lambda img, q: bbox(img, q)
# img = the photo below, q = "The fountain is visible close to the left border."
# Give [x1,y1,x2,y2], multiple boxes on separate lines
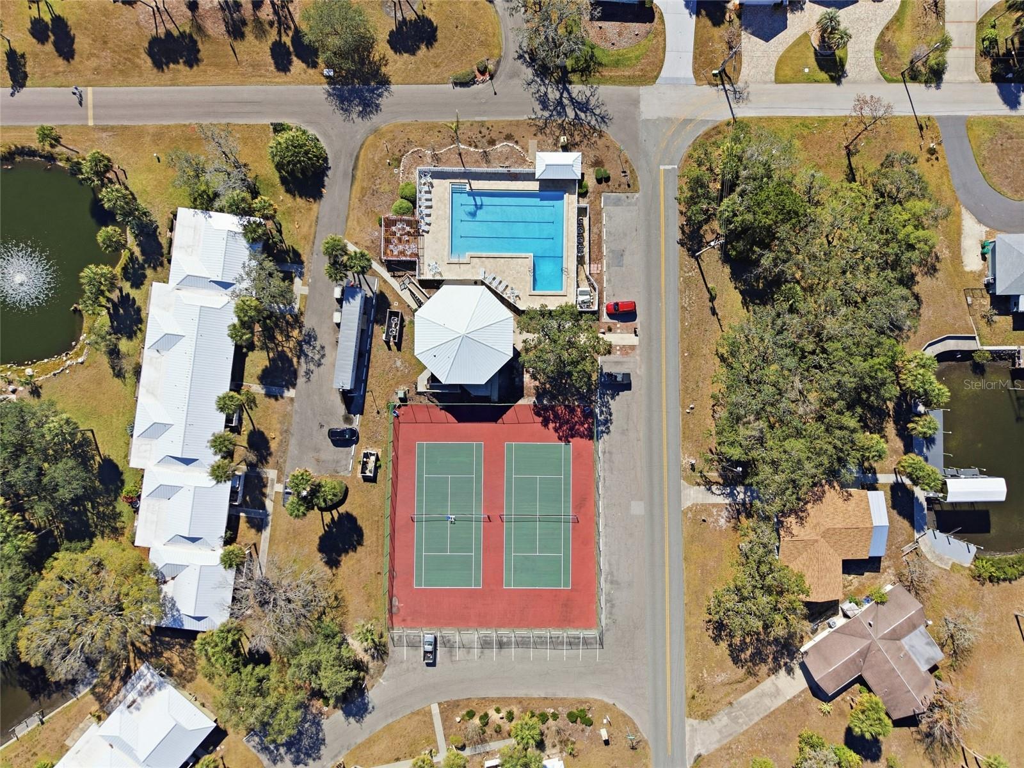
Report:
[0,239,61,319]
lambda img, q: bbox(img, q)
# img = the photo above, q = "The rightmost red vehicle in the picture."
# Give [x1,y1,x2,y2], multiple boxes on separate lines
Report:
[607,301,637,314]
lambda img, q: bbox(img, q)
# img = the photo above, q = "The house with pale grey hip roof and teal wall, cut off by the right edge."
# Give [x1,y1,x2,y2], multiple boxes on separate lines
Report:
[990,233,1024,312]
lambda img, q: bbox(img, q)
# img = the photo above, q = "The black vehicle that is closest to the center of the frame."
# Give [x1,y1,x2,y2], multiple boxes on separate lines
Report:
[601,371,632,385]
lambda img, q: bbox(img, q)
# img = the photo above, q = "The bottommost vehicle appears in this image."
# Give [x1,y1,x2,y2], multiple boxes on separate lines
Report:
[422,635,435,665]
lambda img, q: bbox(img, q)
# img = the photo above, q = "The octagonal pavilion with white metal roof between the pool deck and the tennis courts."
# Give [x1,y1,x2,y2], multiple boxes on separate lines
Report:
[415,285,513,401]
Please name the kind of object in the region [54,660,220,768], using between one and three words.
house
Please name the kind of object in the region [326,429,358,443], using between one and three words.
car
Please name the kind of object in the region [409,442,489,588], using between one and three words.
tennis court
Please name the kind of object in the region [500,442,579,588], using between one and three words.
tennis court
